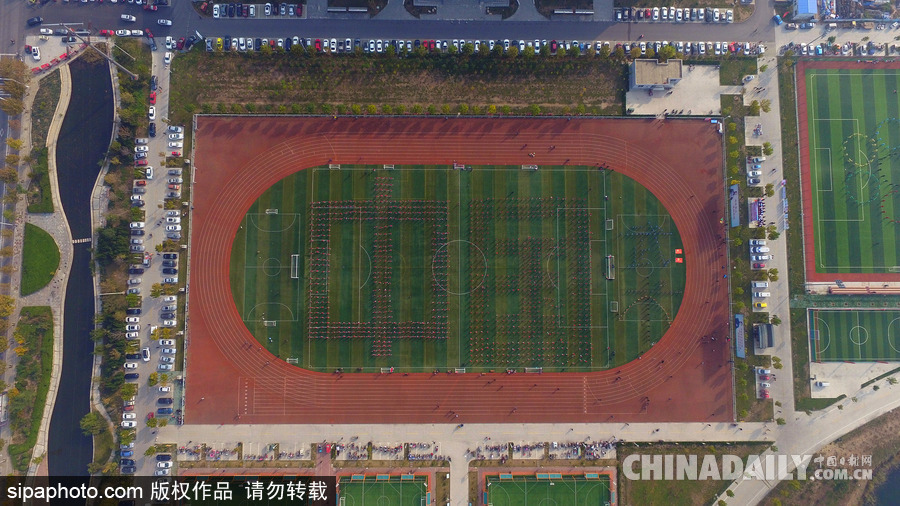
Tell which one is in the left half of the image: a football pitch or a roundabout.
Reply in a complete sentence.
Visible in the left half of the image is a football pitch.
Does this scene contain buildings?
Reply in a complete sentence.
Yes, there's a building here.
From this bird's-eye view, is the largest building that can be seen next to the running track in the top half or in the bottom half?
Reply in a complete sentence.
The largest building that can be seen next to the running track is in the top half of the image.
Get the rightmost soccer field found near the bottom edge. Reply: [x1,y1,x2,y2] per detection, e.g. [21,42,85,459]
[483,473,621,506]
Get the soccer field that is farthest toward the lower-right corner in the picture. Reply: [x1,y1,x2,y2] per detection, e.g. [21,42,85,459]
[809,307,900,362]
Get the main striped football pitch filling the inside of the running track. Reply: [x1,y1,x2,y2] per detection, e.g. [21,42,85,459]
[229,164,686,372]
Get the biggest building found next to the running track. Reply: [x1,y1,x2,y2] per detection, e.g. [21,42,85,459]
[630,59,683,97]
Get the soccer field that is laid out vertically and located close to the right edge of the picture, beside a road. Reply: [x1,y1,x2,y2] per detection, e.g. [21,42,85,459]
[798,58,900,281]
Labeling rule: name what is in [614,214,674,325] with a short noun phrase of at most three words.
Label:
soccer field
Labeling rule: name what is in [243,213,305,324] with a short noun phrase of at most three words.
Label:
soccer field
